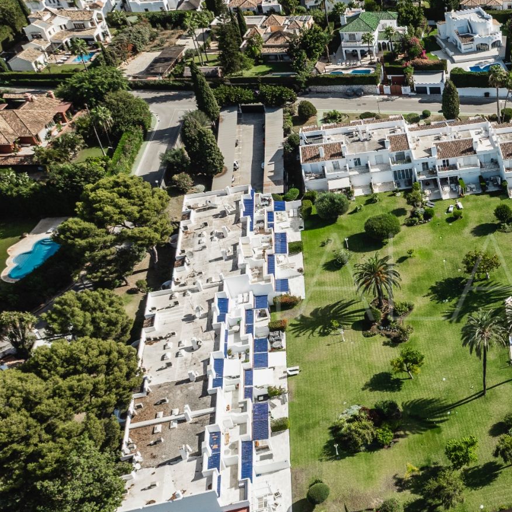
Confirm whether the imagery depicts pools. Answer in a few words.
Yes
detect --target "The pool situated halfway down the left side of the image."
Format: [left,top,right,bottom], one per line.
[2,229,66,280]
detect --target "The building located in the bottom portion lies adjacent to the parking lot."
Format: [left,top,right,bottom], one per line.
[117,184,303,512]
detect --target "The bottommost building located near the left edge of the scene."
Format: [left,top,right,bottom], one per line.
[0,88,92,174]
